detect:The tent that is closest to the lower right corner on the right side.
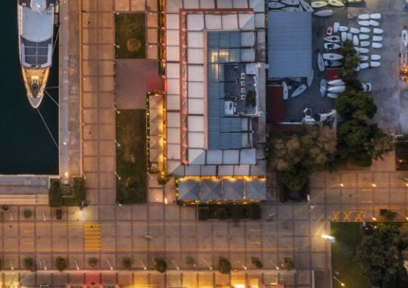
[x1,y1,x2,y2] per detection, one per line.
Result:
[242,177,266,205]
